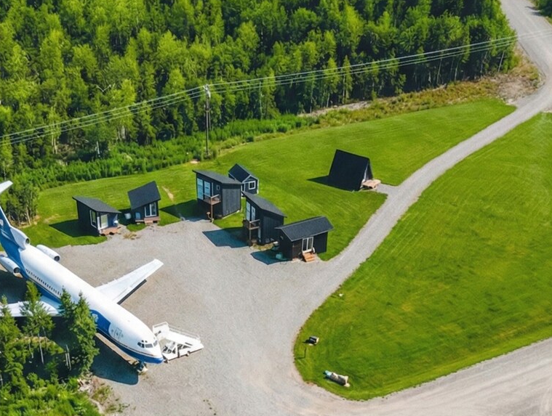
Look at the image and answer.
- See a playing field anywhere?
No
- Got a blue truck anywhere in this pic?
No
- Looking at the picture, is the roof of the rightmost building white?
No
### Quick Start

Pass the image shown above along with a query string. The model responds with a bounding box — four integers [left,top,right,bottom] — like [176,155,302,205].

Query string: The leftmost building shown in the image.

[70,201,124,236]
